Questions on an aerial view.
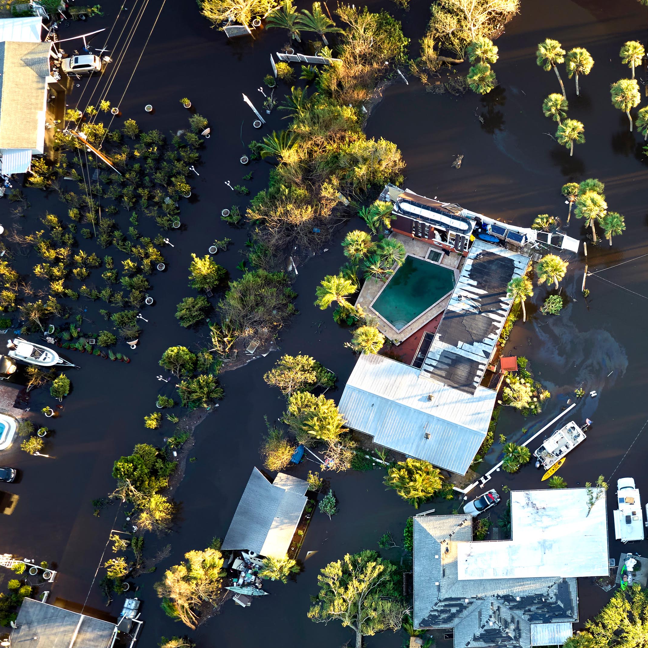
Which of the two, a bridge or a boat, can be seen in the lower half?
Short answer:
boat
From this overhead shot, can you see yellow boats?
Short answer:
Yes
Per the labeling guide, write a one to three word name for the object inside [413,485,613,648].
house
